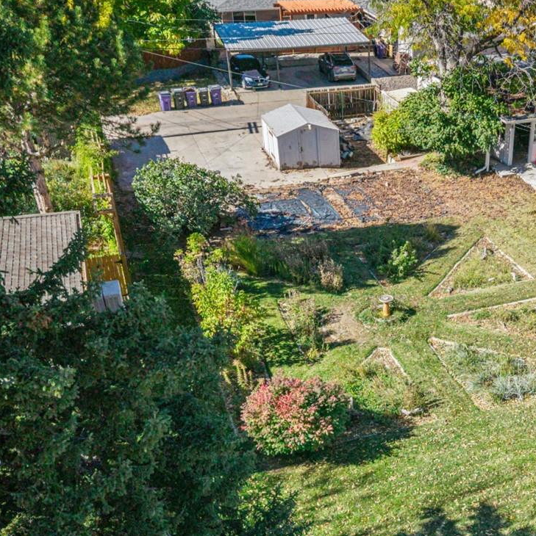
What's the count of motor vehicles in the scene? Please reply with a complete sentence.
I count 2 motor vehicles.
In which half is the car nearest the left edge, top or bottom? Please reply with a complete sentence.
You can find the car nearest the left edge in the top half.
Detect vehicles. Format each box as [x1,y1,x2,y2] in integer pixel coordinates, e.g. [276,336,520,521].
[321,52,358,79]
[236,55,271,87]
